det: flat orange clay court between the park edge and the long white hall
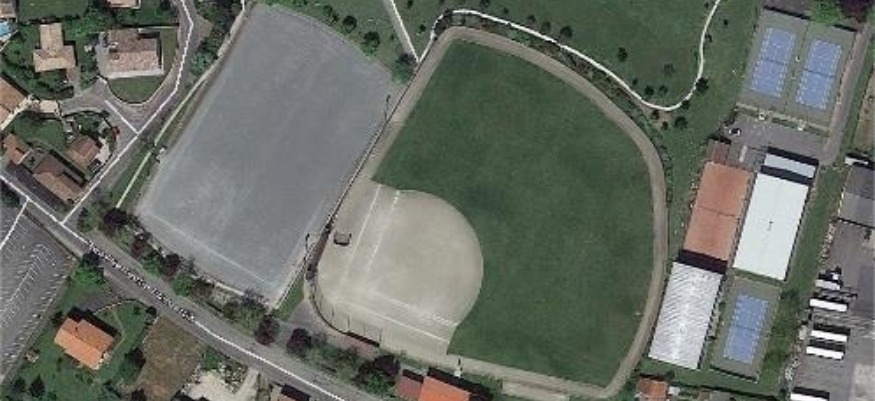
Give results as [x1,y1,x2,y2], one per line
[681,159,755,274]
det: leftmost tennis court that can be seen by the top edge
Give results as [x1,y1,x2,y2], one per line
[735,6,809,118]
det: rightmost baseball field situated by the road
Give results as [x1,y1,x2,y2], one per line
[308,25,668,399]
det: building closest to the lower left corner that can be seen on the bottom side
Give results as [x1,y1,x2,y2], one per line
[53,317,115,369]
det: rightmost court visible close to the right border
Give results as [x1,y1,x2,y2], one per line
[785,20,857,133]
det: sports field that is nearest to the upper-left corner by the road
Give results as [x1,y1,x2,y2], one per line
[132,4,405,309]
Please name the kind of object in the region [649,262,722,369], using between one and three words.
building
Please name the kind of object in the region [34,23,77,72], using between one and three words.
house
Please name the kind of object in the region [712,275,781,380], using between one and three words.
tennis court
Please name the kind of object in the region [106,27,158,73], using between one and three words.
house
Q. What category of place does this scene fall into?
sports ground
